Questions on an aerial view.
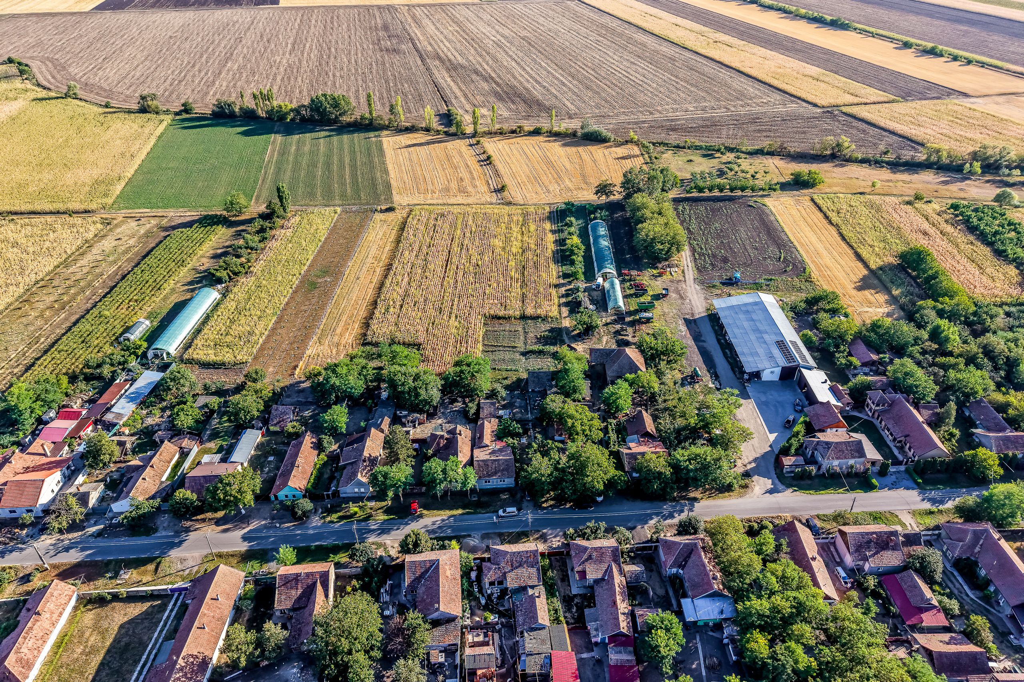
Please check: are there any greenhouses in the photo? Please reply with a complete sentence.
Yes, a greenhouse is visible in the scene.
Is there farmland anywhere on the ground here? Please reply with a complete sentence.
Yes, the picture does contain farmland.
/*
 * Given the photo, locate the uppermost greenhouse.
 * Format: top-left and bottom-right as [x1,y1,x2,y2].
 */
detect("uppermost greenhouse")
[589,217,617,278]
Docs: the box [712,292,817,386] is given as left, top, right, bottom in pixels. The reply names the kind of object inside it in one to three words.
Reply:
building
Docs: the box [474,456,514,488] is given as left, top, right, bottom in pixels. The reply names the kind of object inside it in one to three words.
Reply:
house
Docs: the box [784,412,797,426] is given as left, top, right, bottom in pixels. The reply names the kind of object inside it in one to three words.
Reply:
vehicle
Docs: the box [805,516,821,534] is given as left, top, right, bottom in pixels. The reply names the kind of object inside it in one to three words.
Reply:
car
